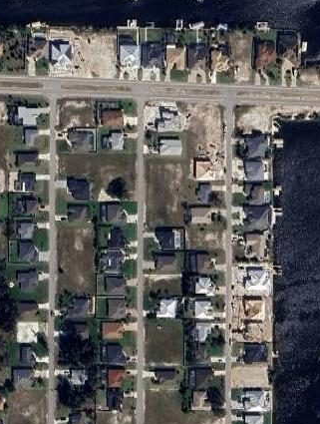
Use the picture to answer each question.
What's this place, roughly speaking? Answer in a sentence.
This looks like a residential area.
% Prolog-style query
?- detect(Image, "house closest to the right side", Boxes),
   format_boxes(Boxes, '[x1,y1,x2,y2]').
[280,47,300,70]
